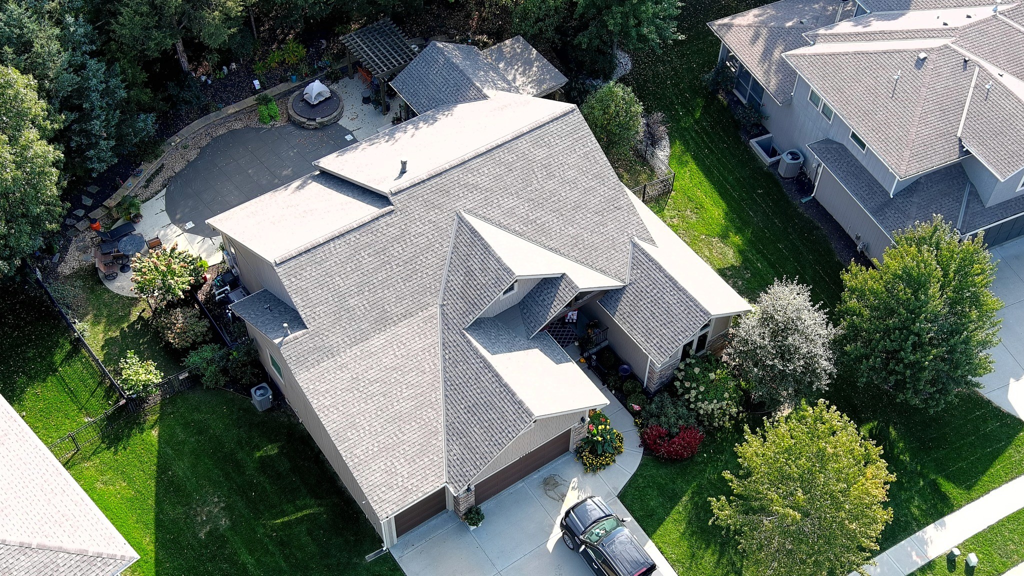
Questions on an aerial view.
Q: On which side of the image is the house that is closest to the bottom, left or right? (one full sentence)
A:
The house that is closest to the bottom sits on the left side.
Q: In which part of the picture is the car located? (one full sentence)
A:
The car is in the bottom part of the image.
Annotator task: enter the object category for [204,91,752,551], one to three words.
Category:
house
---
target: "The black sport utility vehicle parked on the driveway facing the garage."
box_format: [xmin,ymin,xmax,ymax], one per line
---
[563,493,665,576]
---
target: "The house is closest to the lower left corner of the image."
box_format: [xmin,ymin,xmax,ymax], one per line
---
[0,390,143,576]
